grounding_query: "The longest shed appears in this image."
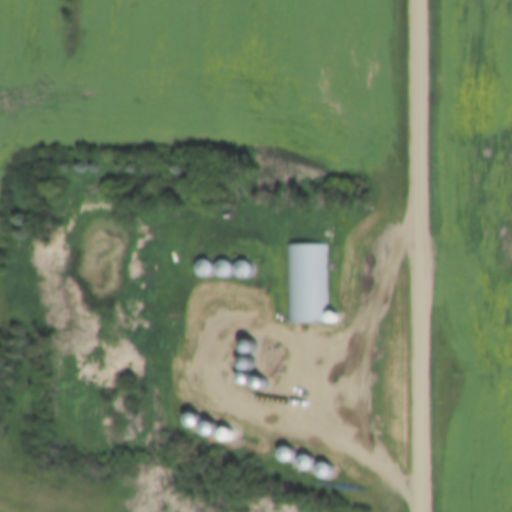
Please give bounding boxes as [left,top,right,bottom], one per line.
[290,244,330,323]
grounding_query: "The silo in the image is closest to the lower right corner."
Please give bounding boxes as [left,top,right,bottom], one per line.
[314,460,337,482]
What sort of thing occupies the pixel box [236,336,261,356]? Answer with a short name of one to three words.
silo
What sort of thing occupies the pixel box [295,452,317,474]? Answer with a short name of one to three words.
silo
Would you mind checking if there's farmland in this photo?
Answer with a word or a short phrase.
Yes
